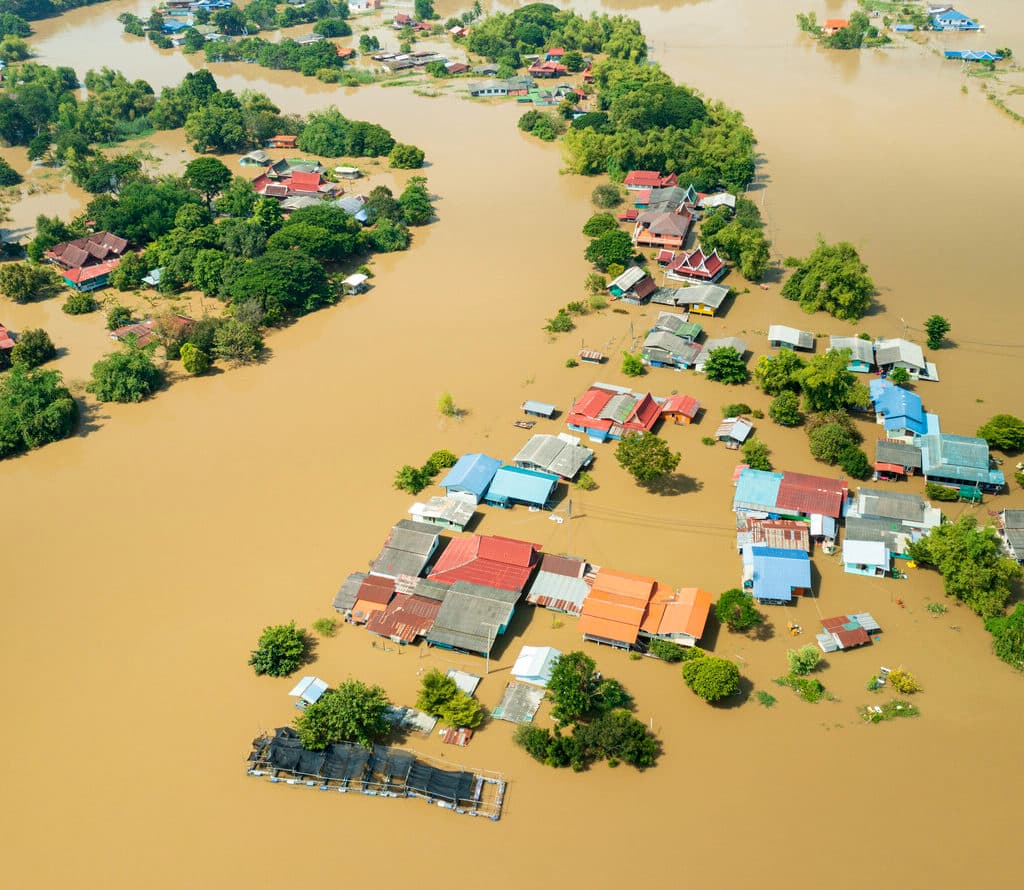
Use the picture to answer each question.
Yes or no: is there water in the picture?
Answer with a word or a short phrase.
Yes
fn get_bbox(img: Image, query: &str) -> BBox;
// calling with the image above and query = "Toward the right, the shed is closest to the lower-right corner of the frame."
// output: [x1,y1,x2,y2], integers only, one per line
[816,613,880,654]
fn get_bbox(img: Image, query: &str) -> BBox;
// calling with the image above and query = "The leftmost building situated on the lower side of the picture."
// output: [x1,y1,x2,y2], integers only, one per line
[288,676,329,710]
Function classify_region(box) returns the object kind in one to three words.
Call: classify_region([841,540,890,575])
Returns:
shed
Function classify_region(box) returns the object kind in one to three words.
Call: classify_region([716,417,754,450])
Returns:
shed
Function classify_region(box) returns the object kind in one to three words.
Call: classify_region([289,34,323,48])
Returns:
house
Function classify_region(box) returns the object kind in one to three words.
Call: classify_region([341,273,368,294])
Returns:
building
